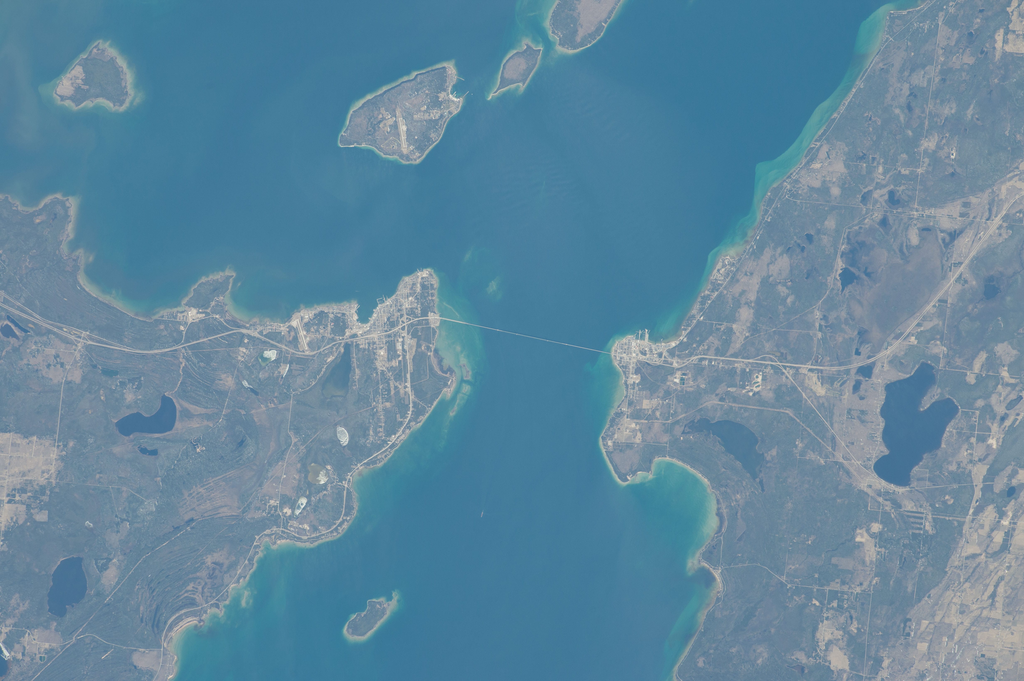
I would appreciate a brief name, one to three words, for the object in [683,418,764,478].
pond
